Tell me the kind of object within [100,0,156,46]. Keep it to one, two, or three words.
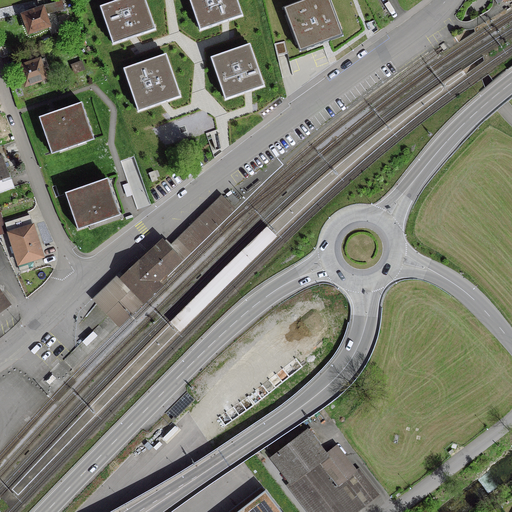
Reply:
building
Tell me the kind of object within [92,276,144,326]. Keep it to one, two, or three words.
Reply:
shed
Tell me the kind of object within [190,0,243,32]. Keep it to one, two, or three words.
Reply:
building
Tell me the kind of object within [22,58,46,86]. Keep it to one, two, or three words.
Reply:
house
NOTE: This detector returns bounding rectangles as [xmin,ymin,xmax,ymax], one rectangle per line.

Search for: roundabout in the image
[294,184,431,316]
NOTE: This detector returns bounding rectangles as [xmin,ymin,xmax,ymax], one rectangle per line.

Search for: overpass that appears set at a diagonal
[114,312,381,512]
